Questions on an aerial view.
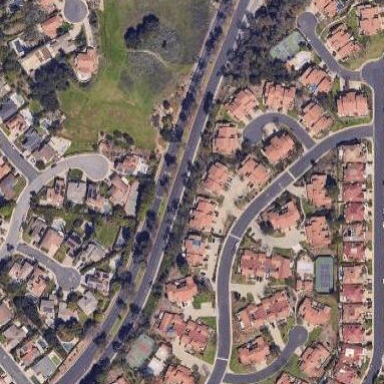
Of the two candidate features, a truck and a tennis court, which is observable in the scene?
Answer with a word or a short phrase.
tennis court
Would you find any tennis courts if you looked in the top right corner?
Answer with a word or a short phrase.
Yes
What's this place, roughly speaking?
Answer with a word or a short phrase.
residential area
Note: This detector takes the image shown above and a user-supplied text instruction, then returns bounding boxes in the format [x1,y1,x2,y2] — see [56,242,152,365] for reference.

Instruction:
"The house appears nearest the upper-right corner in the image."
[359,4,383,35]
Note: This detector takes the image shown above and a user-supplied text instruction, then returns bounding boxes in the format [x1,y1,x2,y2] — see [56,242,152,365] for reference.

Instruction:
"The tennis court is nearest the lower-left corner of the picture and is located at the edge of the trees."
[125,333,154,368]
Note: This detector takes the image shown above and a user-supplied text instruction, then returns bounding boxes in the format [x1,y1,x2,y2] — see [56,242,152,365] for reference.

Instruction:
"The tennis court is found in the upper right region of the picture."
[270,28,304,60]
